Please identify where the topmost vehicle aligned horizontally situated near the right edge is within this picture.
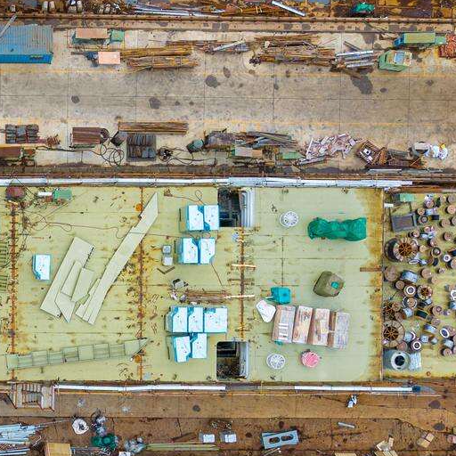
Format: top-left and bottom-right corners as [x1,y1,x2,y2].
[388,29,435,51]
